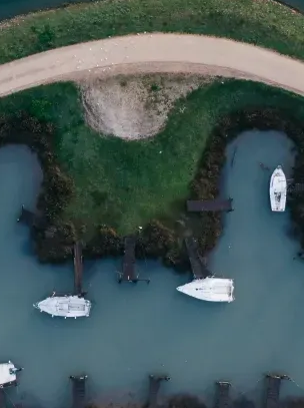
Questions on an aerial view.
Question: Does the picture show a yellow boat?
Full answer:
No, I can't see a single yellow boat in this photo.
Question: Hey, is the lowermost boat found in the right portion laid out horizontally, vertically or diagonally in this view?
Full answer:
In this picture, the lowermost boat found in the right portion is oriented horizontally.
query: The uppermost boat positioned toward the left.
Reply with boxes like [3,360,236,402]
[33,295,92,319]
